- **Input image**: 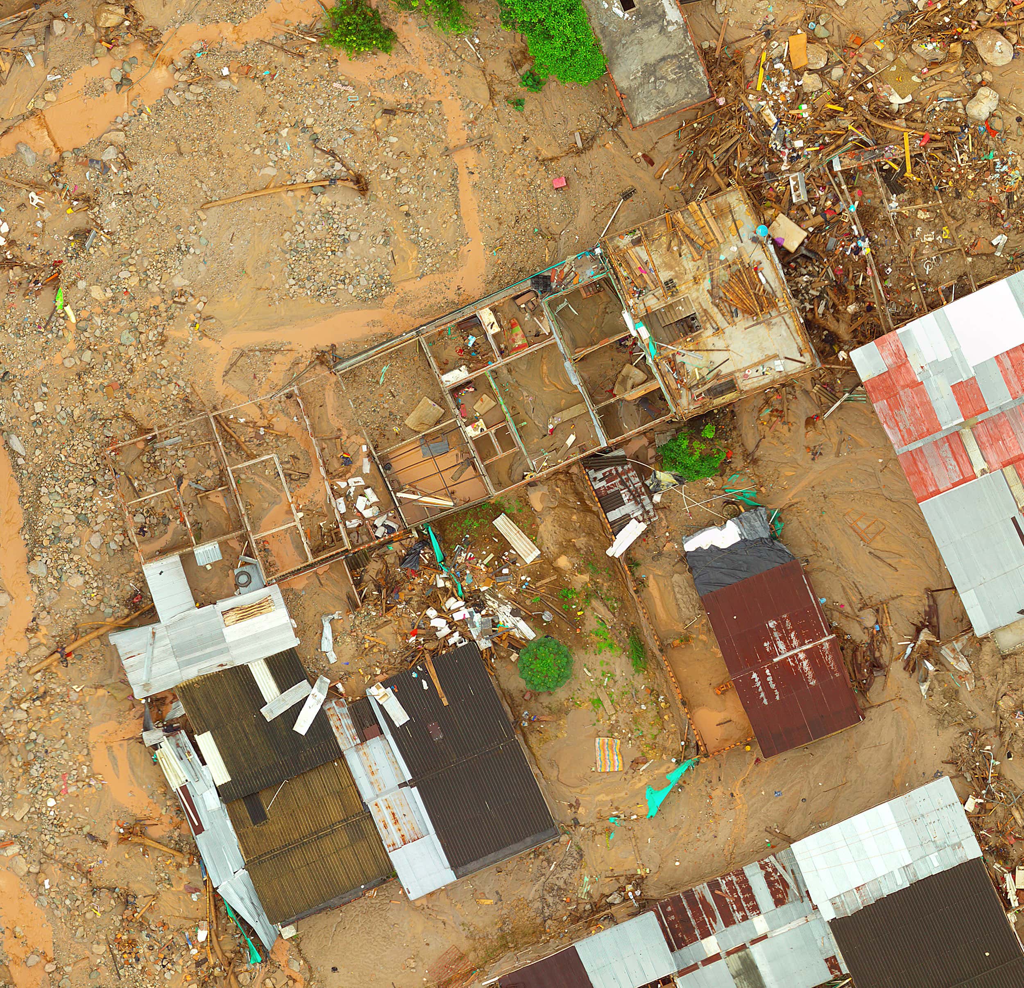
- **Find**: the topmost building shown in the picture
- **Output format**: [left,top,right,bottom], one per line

[580,0,717,137]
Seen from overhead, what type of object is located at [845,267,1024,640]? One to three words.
warehouse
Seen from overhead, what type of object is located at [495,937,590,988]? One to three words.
house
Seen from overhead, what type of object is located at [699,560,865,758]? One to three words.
house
